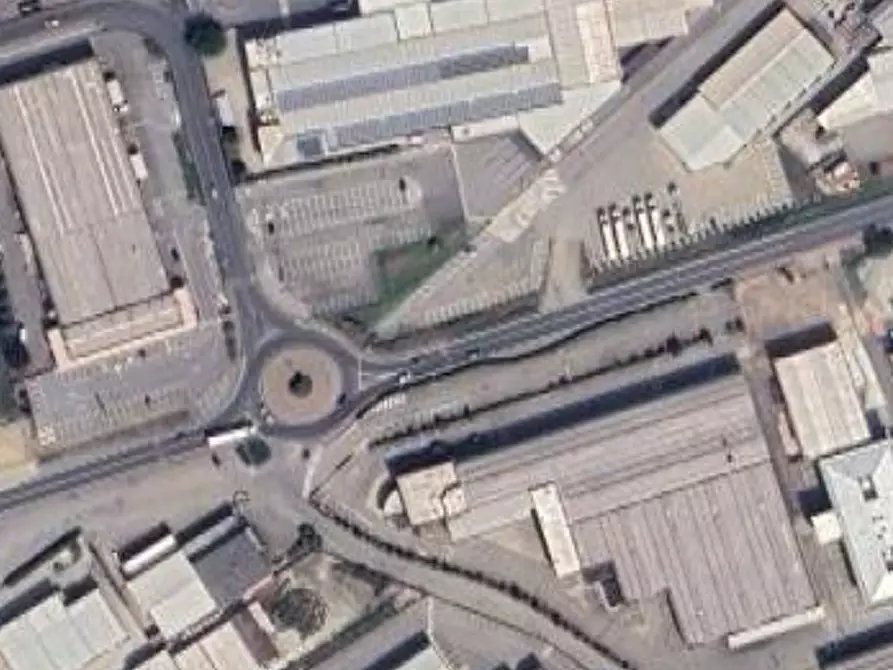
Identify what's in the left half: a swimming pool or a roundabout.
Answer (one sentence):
The feature located in the left half is a roundabout.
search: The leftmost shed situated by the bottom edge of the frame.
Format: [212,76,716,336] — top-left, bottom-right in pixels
[0,587,134,670]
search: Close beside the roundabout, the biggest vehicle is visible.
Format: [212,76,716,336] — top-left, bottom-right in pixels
[207,425,255,444]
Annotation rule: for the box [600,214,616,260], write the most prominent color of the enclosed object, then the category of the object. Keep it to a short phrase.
white vehicle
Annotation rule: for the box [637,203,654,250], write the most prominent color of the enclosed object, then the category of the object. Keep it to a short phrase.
white vehicle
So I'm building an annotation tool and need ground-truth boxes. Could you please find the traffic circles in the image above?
[245,328,358,442]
